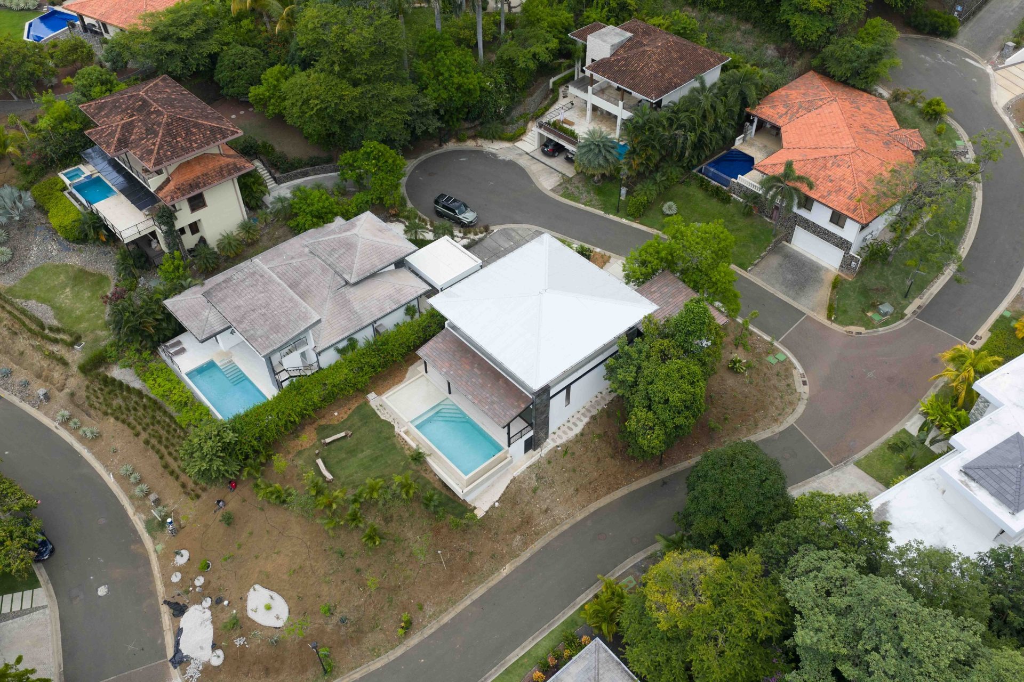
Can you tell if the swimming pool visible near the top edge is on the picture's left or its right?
left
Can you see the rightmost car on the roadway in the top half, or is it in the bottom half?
top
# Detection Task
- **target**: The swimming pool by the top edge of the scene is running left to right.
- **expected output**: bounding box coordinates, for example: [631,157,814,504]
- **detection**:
[25,15,75,37]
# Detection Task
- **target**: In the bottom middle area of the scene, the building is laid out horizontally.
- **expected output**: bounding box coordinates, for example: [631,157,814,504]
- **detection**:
[548,635,644,682]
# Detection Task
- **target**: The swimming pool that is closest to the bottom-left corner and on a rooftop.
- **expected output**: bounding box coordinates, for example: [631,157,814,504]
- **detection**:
[187,353,273,423]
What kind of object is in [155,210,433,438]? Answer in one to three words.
house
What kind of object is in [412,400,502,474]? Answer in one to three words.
swimming pool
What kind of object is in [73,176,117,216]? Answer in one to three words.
swimming pool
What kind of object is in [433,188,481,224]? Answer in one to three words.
car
